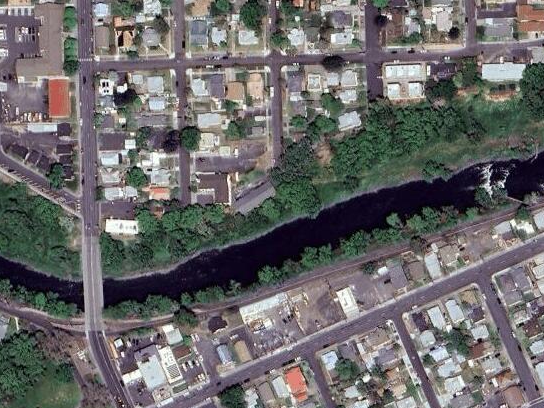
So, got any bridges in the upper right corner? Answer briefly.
No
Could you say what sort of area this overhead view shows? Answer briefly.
residential area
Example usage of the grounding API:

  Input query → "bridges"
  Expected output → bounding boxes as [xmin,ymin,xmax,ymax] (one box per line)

[81,237,106,337]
